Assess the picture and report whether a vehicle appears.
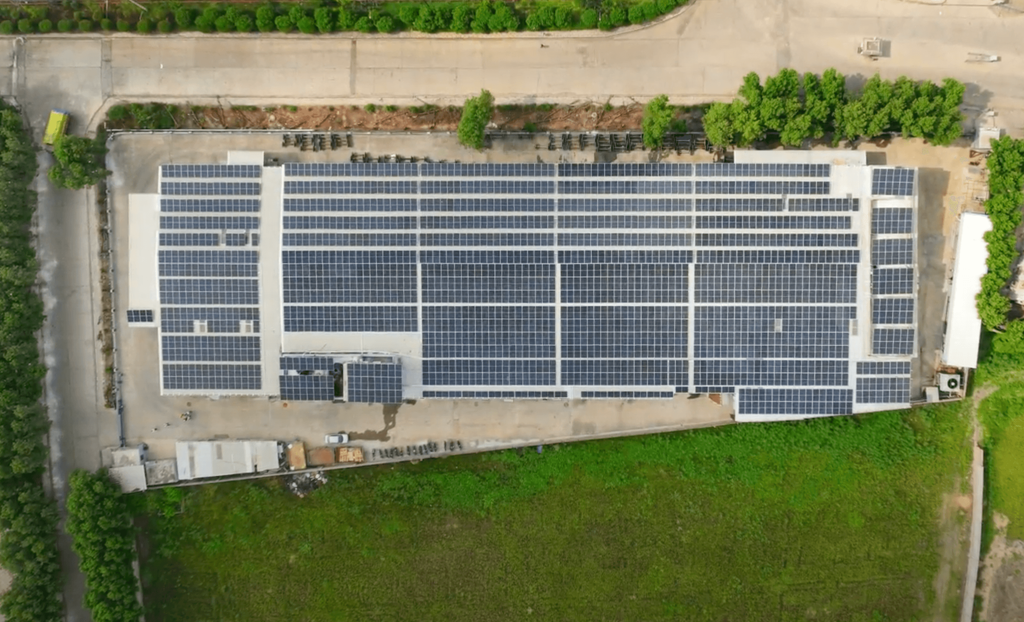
Yes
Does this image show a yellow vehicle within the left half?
Yes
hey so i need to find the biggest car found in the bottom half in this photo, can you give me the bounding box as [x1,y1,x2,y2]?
[324,434,348,446]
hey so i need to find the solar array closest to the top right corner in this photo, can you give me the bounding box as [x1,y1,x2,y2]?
[872,169,914,195]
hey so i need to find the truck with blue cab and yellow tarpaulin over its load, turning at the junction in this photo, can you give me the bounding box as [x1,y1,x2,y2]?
[42,109,70,147]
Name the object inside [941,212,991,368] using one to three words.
shed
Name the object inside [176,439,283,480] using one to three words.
shed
